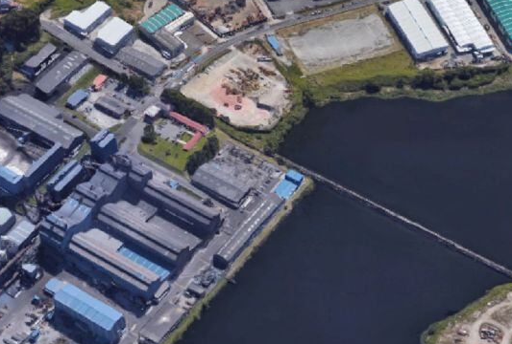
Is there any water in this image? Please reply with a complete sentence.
Yes, there is water in the image.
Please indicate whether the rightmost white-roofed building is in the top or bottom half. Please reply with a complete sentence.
You can find the rightmost white-roofed building in the top half.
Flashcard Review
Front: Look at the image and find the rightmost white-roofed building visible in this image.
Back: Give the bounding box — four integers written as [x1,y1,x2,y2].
[426,0,494,57]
